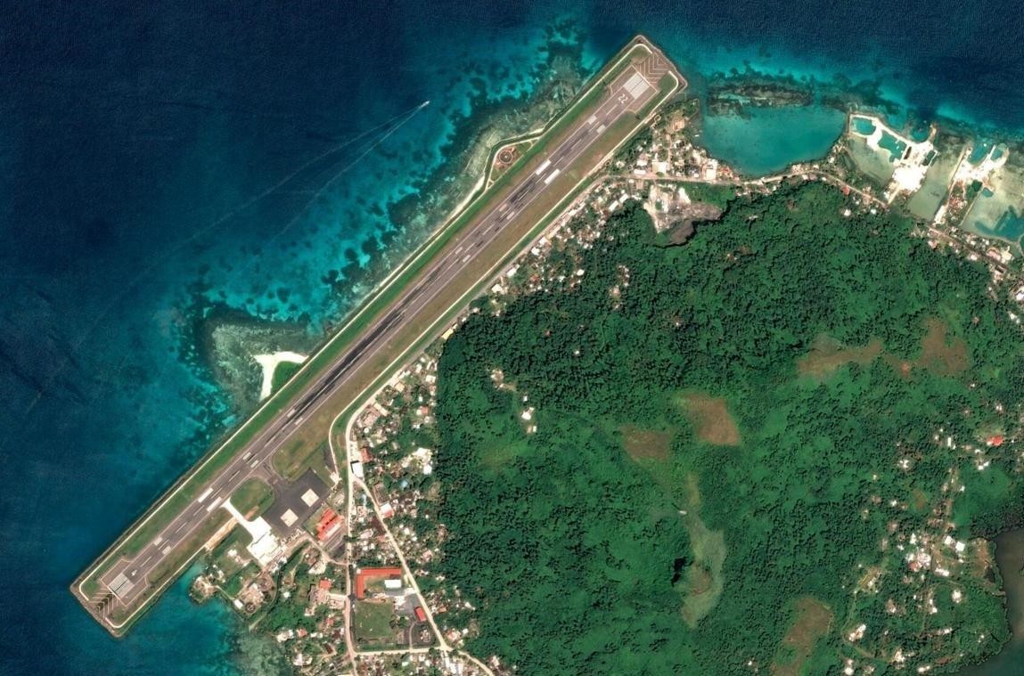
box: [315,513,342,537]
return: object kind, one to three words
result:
building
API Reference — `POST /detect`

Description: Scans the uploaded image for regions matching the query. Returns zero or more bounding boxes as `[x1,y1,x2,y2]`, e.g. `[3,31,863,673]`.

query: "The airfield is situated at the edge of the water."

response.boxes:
[68,35,688,636]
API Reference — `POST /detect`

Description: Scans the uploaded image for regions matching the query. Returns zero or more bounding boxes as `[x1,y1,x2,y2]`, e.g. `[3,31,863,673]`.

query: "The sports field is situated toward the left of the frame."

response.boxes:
[356,602,393,640]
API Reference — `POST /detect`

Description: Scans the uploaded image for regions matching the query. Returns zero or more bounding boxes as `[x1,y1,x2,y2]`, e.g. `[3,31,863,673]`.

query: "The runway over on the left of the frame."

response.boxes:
[101,65,657,606]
